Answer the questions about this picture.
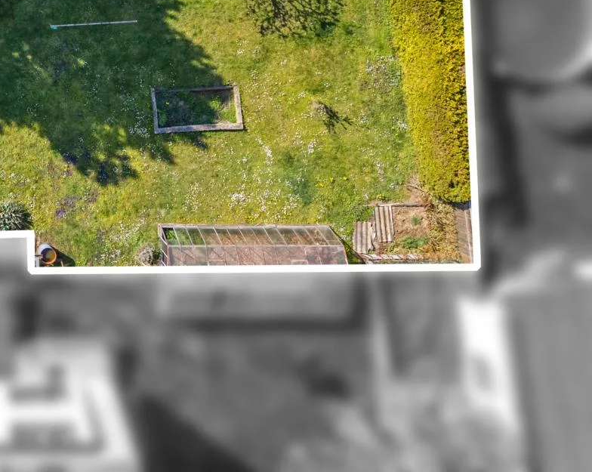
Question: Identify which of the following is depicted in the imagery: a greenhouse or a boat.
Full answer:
There is a greenhouse in the scene.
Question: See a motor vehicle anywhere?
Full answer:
No, there appears to be no motor vehicle in this shot.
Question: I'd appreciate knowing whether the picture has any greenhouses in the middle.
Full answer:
Yes, the scene does show a greenhouse in the middle.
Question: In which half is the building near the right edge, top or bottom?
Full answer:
Seen from above, the building near the right edge lies in the bottom half of the view.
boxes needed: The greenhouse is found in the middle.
[159,221,350,323]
